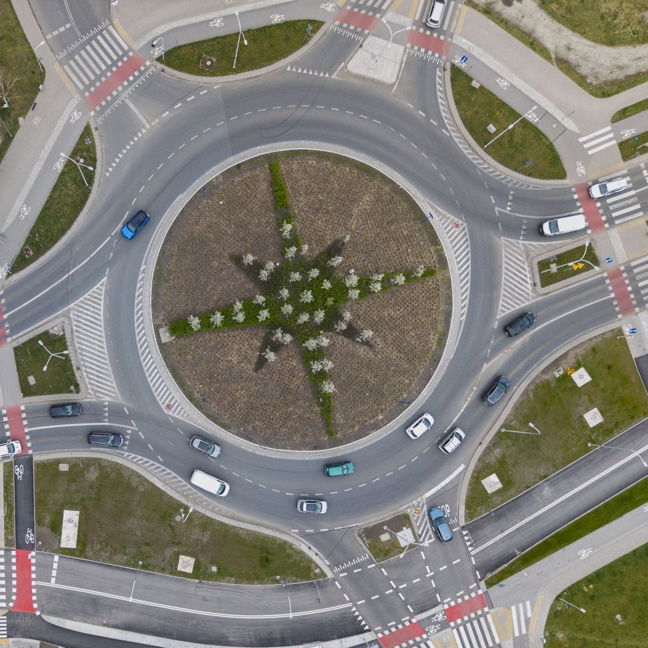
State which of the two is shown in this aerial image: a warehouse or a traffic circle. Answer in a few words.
traffic circle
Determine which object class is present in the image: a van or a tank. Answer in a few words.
van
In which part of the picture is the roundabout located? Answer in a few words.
center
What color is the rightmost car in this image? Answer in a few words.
white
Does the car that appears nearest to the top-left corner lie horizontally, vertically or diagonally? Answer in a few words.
diagonally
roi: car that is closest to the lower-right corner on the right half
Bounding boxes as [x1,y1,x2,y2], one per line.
[427,506,453,543]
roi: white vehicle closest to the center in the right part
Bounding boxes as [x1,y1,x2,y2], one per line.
[403,411,433,441]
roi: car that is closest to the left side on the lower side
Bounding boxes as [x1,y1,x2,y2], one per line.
[0,440,23,457]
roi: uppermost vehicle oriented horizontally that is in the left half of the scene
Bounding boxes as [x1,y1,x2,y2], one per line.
[48,401,83,417]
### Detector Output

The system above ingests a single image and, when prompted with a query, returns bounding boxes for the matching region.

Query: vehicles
[122,211,149,241]
[427,506,453,543]
[190,467,231,498]
[48,401,83,417]
[501,311,536,337]
[436,425,465,456]
[87,431,123,449]
[479,373,511,407]
[0,440,23,457]
[295,499,328,515]
[403,411,433,441]
[539,215,588,237]
[188,434,222,457]
[587,178,627,200]
[324,459,354,476]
